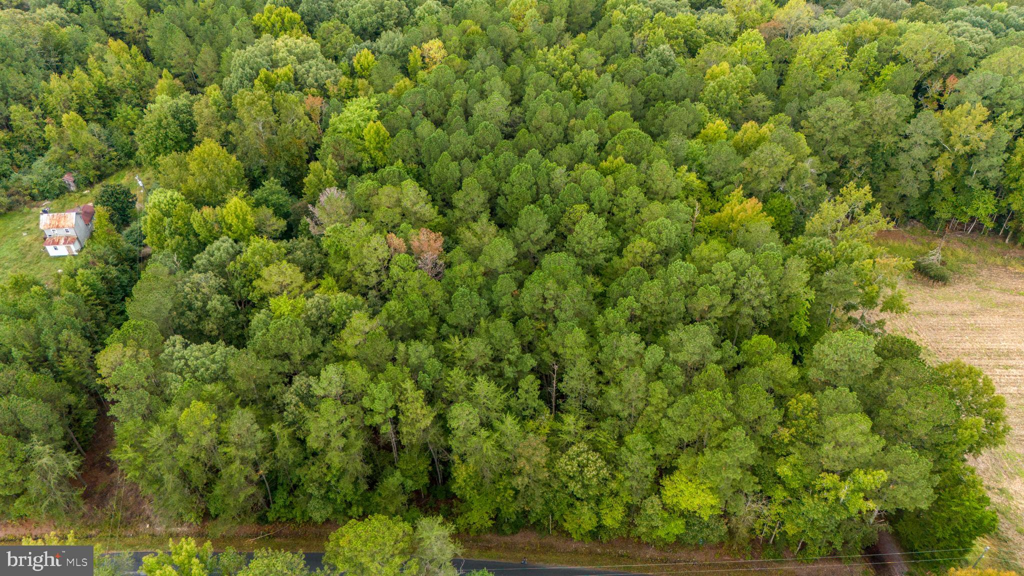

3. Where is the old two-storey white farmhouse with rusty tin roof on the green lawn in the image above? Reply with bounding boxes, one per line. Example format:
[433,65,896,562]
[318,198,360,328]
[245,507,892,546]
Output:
[42,202,100,258]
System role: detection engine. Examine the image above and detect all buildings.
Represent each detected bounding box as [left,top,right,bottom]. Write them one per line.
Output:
[55,176,80,195]
[42,202,100,258]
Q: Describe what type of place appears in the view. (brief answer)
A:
forest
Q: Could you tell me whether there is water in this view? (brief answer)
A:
No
